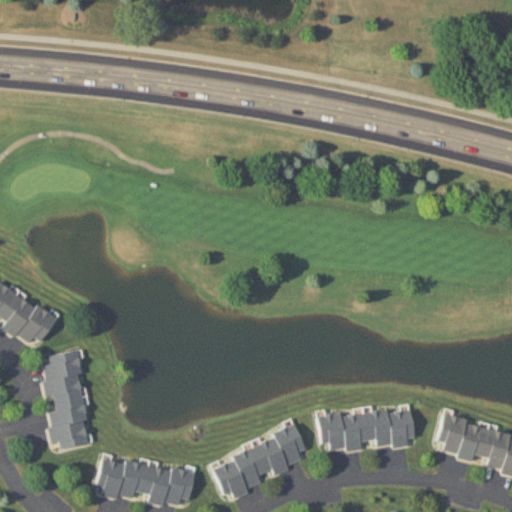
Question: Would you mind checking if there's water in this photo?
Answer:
Yes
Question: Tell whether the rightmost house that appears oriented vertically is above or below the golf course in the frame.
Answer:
below it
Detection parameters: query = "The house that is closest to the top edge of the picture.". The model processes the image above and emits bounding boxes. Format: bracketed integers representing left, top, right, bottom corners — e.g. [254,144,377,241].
[0,282,58,346]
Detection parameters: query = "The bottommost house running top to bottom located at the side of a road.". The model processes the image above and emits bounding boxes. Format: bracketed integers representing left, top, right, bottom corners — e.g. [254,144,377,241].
[42,352,94,452]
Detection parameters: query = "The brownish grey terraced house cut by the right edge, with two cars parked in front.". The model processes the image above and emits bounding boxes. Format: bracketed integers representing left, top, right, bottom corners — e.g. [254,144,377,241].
[434,412,512,478]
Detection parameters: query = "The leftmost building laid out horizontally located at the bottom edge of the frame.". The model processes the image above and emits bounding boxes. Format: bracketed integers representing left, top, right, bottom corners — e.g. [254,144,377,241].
[96,455,190,508]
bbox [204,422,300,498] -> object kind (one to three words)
house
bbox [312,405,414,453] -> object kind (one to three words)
house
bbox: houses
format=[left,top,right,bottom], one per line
[96,455,190,508]
[0,282,58,346]
[312,405,414,453]
[434,412,512,478]
[204,422,300,498]
[42,352,94,452]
